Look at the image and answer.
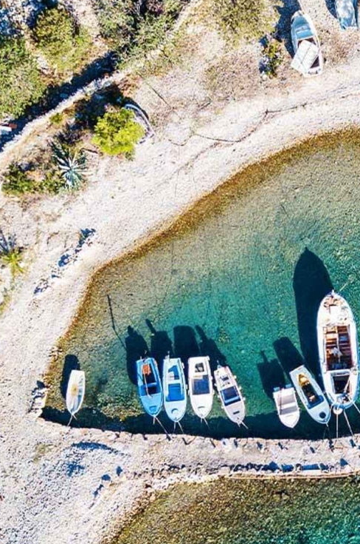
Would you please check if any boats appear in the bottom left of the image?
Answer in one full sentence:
Yes, a boat is visible in the bottom left of the image.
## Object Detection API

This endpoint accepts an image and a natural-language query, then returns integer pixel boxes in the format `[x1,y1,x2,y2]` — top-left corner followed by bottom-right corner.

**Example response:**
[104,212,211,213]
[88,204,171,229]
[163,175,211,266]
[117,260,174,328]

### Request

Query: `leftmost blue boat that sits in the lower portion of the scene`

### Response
[133,354,171,441]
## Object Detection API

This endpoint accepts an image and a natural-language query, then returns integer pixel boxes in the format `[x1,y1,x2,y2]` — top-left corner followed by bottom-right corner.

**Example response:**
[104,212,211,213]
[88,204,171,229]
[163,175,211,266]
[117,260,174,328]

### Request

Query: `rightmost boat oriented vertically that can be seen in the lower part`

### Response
[314,272,360,441]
